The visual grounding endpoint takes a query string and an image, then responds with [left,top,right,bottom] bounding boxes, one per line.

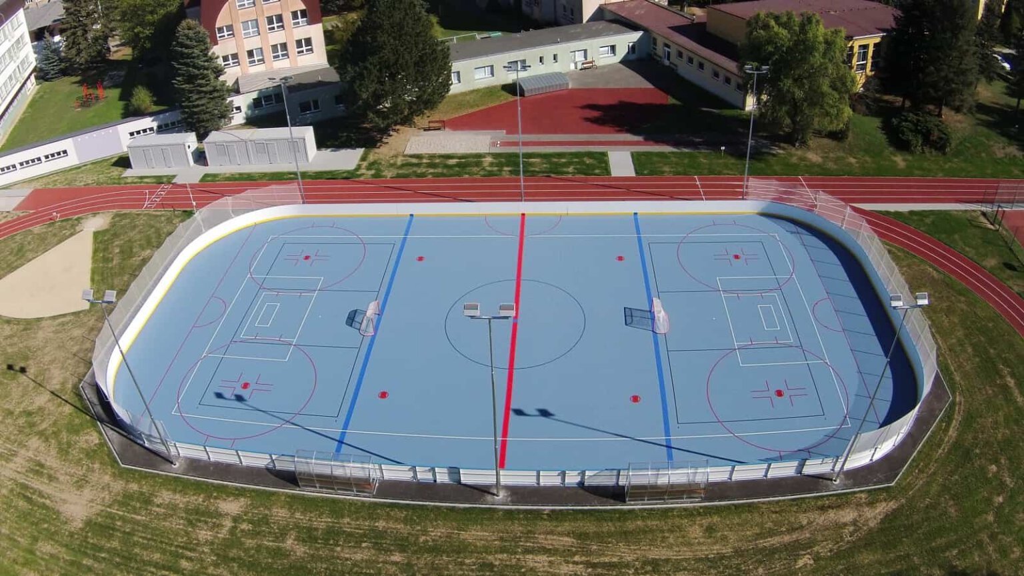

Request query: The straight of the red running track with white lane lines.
[0,176,1024,238]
